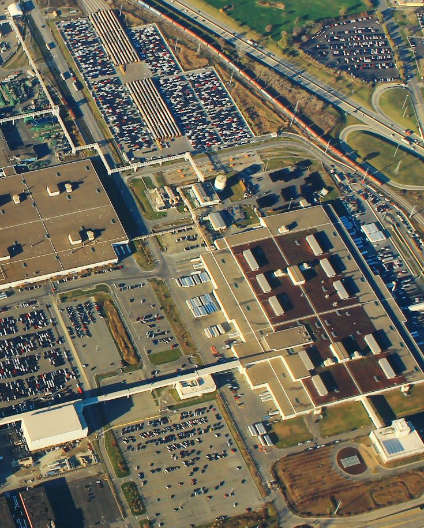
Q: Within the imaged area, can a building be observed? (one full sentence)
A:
Yes, I can see a building in this picture.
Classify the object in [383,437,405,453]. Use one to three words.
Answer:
solar panel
